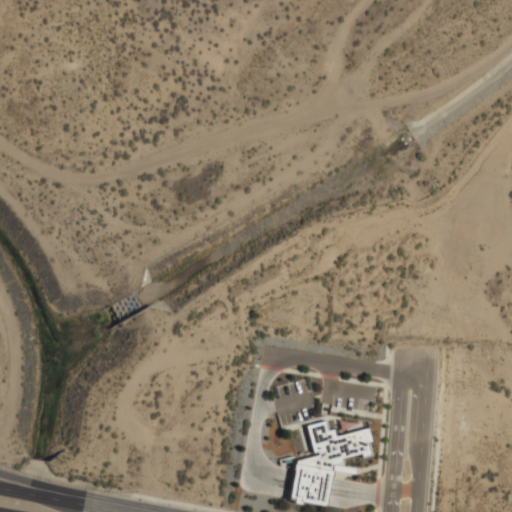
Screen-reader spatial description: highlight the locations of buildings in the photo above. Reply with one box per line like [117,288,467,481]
[292,420,374,506]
